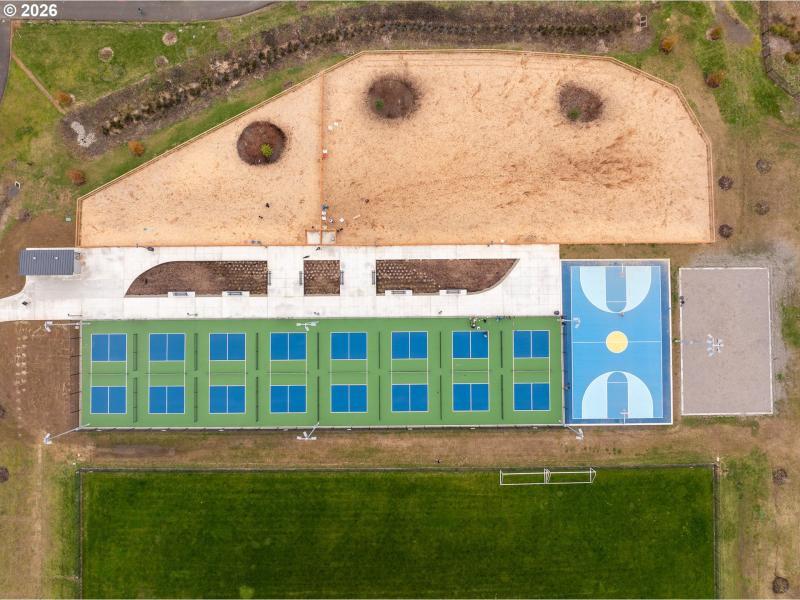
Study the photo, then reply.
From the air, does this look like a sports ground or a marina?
sports ground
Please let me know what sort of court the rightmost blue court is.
basketball court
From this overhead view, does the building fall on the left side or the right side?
left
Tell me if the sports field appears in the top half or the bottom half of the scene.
bottom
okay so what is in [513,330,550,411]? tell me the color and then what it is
blue sports court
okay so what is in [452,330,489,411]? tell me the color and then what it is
blue sports court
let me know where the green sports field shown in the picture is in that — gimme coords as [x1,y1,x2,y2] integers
[81,468,715,600]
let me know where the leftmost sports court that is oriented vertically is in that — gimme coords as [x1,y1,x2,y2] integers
[91,333,127,414]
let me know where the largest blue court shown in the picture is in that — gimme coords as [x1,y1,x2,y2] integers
[559,259,673,425]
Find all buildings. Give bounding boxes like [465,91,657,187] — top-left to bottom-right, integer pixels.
[20,250,83,276]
